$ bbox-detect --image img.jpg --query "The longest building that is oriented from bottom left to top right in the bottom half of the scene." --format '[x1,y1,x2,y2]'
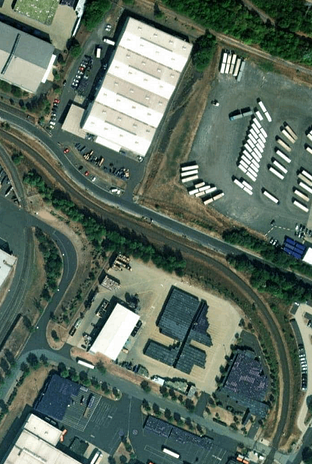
[90,303,140,363]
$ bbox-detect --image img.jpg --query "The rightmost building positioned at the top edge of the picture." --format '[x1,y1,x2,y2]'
[83,18,193,161]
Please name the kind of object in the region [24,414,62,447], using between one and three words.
building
